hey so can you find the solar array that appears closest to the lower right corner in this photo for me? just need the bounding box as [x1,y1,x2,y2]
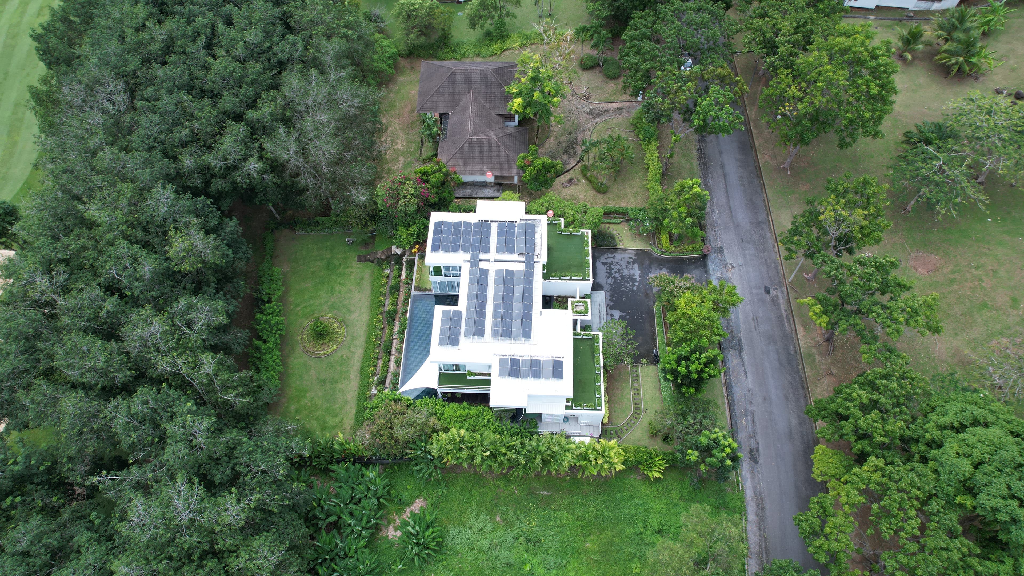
[499,358,563,380]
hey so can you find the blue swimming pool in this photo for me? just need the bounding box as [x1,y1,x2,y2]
[398,292,460,409]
